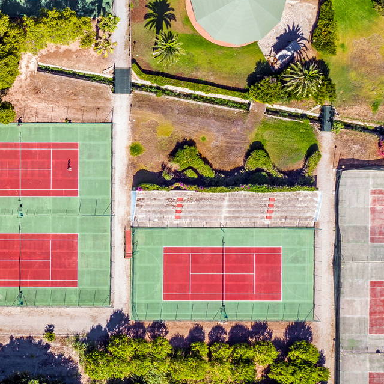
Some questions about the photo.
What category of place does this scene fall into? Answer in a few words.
sports ground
